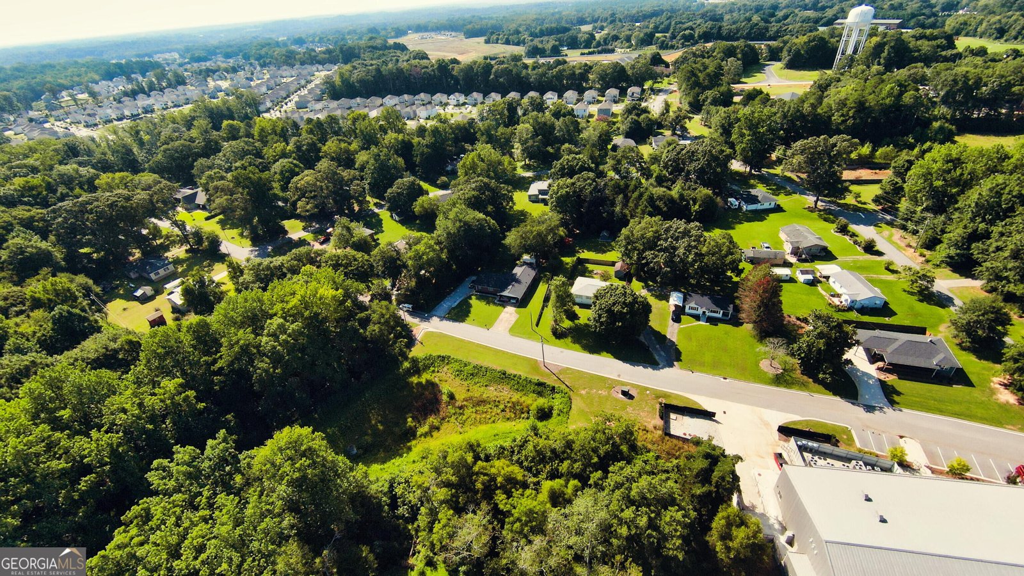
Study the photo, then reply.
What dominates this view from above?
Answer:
trees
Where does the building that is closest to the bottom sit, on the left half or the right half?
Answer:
right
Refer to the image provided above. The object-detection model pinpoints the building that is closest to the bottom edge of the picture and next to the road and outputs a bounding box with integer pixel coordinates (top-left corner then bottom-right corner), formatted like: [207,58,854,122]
[776,462,1024,576]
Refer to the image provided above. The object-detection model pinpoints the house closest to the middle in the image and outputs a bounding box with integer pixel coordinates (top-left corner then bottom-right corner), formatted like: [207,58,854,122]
[474,263,544,306]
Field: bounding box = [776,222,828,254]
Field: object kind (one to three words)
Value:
house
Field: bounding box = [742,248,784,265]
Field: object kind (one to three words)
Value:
shed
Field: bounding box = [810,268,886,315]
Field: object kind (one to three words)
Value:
house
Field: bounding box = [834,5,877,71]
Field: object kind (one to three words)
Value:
water tower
